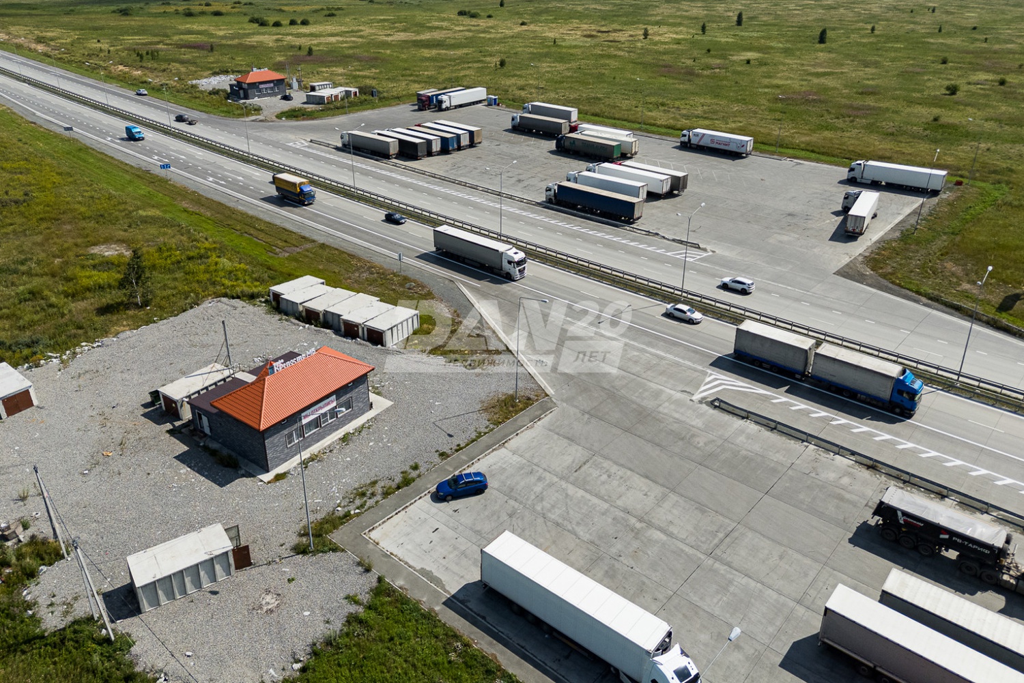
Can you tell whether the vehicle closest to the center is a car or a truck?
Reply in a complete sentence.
The vehicle closest to the center is a truck.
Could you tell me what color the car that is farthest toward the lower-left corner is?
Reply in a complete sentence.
From above, the car that is farthest toward the lower-left corner appears blue.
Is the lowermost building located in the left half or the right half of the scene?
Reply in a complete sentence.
It is on the left.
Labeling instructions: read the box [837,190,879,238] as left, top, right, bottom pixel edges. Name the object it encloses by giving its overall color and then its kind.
white truck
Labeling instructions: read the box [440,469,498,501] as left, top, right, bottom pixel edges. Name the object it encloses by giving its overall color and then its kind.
blue car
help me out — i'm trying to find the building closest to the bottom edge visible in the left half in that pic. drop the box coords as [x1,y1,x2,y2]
[128,526,253,613]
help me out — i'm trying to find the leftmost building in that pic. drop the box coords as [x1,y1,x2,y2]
[0,367,41,422]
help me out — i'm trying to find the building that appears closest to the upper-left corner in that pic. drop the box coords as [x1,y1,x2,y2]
[223,64,297,101]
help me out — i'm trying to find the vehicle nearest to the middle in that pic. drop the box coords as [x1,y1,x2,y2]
[433,224,532,283]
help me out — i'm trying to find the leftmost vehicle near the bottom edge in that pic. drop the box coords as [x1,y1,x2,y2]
[482,531,711,683]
